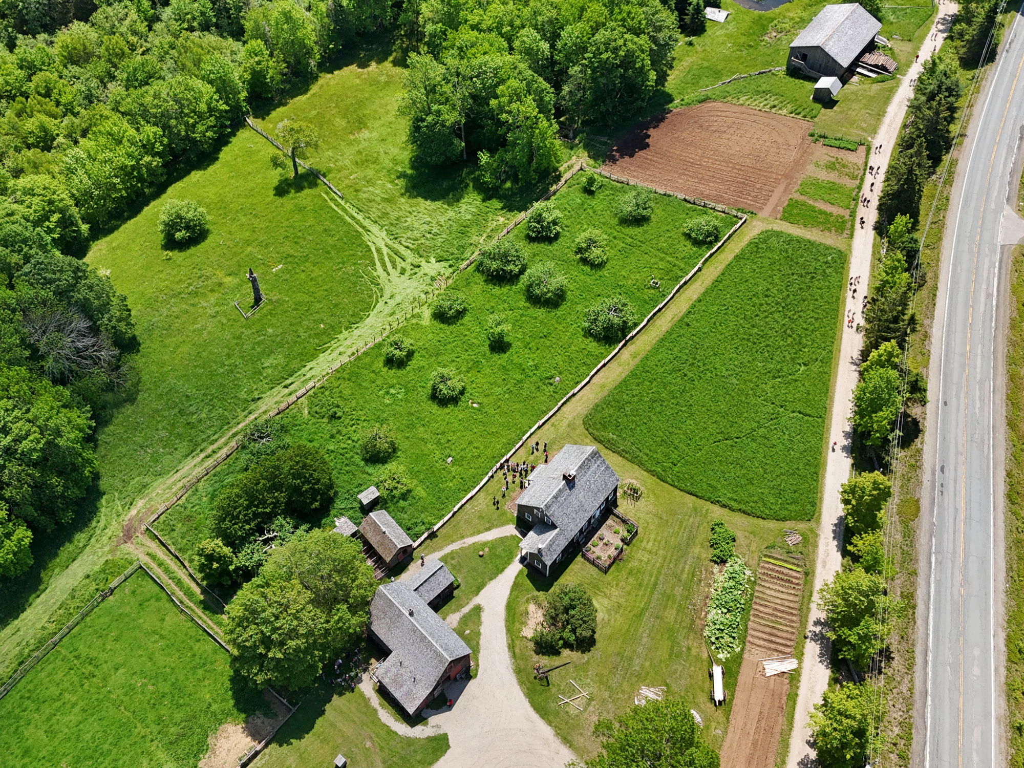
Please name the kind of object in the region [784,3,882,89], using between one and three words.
barn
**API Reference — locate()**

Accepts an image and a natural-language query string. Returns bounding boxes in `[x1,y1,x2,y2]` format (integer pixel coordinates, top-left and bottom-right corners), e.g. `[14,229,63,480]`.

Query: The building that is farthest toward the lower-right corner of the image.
[515,445,620,577]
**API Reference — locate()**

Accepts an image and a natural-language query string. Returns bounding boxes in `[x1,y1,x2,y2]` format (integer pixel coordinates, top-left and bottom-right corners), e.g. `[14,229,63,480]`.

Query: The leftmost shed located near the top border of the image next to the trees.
[705,6,730,26]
